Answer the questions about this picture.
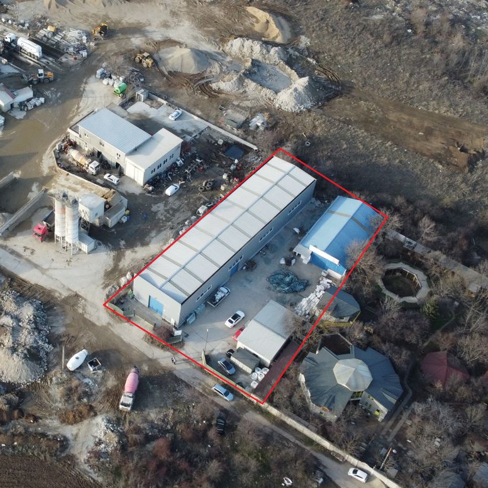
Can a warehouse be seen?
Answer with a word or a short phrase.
Yes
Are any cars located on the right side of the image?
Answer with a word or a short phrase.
Yes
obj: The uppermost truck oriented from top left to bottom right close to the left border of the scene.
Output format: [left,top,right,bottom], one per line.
[7,31,41,59]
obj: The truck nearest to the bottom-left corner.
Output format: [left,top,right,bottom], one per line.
[118,365,140,411]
